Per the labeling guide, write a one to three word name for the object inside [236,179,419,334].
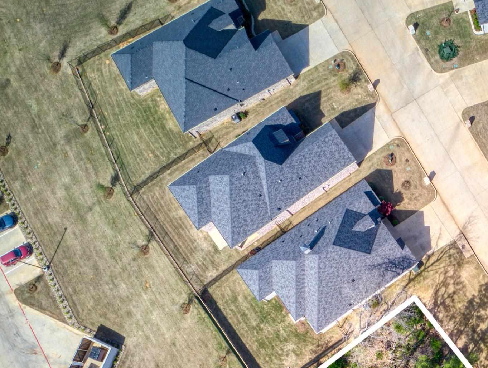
house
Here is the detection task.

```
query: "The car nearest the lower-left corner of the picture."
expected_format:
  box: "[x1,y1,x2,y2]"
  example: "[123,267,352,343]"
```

[0,241,33,266]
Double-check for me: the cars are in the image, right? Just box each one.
[0,241,33,266]
[0,209,18,229]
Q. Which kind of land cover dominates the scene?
grass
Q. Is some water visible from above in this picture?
No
